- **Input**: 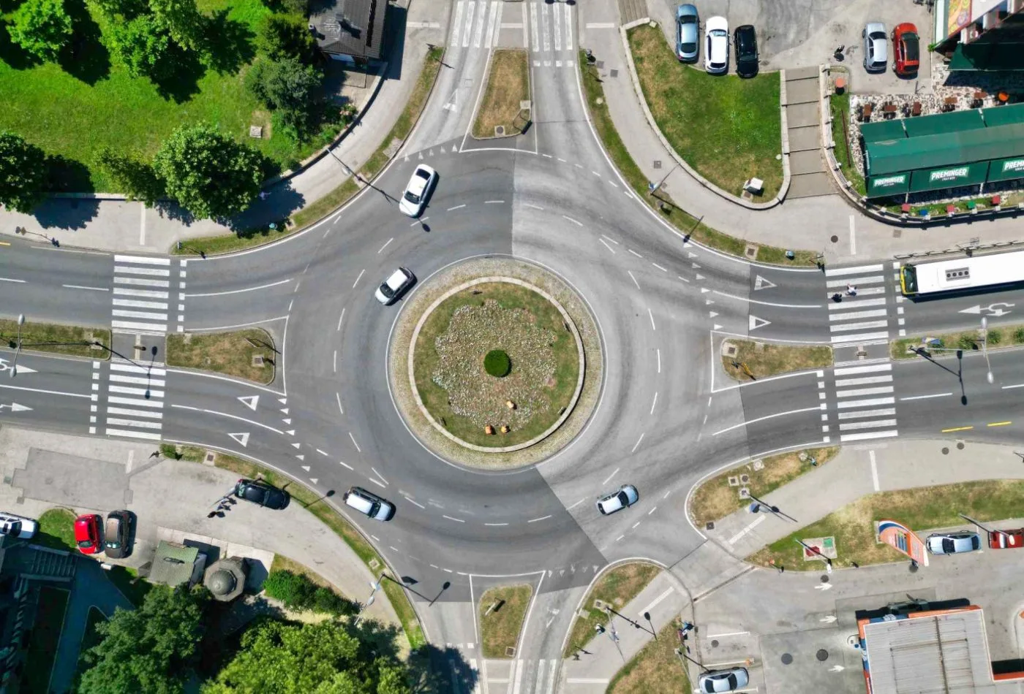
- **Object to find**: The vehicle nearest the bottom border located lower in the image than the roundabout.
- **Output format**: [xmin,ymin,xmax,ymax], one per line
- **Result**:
[696,664,749,694]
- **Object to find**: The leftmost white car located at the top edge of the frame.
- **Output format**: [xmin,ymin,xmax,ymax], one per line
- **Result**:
[703,17,732,75]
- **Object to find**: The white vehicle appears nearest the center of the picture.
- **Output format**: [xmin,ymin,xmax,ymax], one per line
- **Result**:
[374,266,417,305]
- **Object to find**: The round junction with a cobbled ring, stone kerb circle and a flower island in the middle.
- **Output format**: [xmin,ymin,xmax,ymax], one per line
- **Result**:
[167,36,750,602]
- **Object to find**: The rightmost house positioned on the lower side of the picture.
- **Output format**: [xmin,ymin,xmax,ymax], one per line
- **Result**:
[205,547,259,600]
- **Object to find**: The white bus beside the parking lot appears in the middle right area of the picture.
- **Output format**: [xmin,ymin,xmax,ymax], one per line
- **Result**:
[901,251,1024,297]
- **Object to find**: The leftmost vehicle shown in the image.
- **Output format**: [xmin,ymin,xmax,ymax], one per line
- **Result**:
[0,511,41,541]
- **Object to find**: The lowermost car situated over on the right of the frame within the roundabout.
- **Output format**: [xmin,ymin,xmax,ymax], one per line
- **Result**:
[595,484,640,516]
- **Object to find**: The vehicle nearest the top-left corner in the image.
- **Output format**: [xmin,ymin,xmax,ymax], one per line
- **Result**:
[400,162,436,218]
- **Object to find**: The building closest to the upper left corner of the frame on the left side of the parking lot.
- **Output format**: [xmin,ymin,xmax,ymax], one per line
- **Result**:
[307,0,390,66]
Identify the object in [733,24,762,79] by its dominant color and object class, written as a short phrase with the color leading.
black car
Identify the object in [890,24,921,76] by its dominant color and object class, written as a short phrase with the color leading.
red car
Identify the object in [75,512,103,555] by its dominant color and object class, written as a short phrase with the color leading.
red car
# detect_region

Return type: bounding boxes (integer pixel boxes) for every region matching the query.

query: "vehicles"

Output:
[595,484,640,516]
[234,477,292,512]
[400,162,436,218]
[901,251,1024,297]
[674,5,701,62]
[103,509,133,558]
[0,511,41,541]
[832,43,848,63]
[733,24,762,79]
[890,24,921,76]
[881,593,934,617]
[343,486,396,522]
[696,664,749,694]
[923,530,980,557]
[703,17,732,75]
[860,23,889,73]
[374,266,417,305]
[75,512,103,555]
